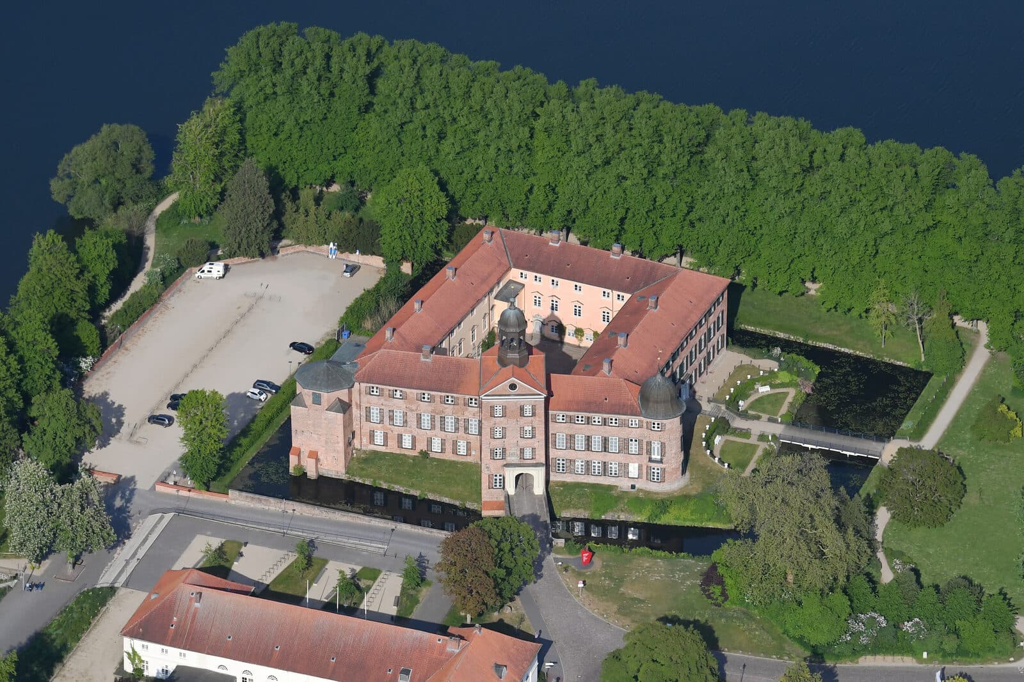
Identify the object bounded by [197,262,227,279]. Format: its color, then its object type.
white vehicle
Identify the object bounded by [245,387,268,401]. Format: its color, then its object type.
white car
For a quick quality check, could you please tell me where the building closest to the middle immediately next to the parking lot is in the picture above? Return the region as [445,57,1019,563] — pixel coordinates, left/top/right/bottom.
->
[289,226,731,510]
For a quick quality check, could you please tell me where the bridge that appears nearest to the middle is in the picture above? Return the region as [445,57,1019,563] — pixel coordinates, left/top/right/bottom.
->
[506,491,552,559]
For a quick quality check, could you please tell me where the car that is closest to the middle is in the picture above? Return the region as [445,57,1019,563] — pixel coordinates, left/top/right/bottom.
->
[341,260,361,276]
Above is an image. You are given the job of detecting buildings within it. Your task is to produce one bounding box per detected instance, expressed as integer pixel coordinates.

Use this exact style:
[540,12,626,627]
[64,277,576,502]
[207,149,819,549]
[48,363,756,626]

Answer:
[289,226,731,510]
[120,567,546,682]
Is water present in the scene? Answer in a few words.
Yes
